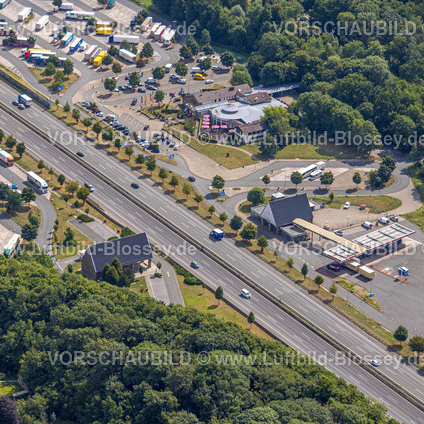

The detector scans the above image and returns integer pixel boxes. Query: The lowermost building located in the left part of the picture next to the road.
[79,231,156,279]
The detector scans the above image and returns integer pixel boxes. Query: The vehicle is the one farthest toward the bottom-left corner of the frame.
[4,234,20,260]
